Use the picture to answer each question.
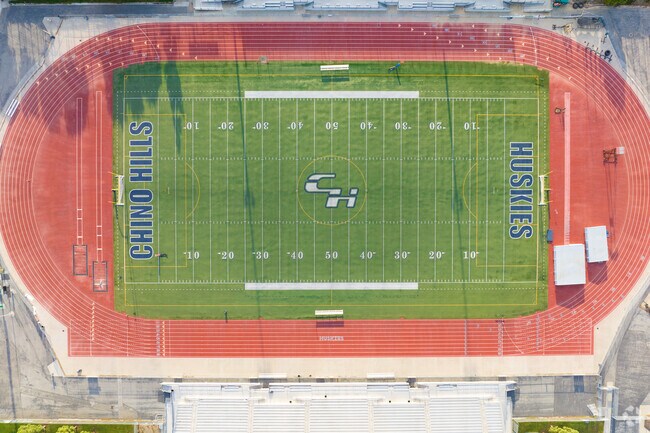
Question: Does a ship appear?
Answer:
No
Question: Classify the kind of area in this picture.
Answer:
sports ground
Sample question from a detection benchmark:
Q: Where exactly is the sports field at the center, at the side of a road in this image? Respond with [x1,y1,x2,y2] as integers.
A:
[114,60,548,319]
